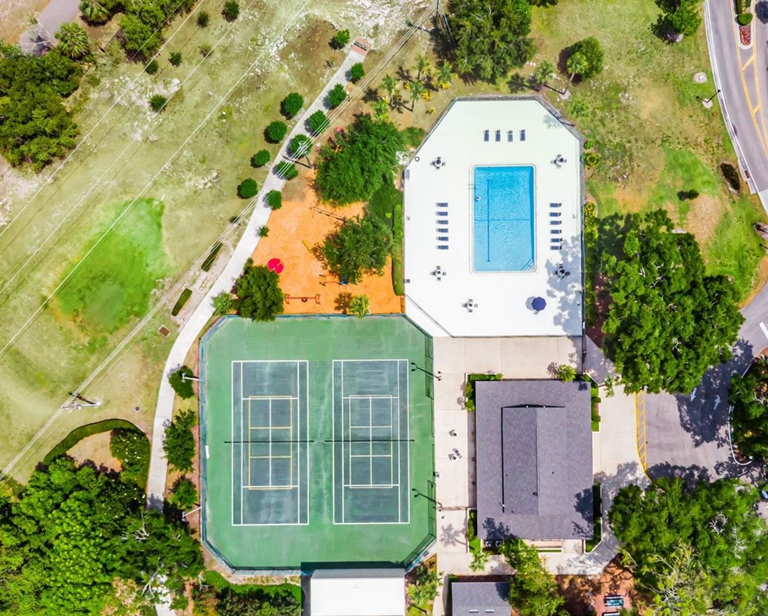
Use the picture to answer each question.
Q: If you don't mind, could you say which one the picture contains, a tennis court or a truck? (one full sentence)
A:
Of the two, only a tennis court appears.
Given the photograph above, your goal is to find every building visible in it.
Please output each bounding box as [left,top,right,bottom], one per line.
[309,566,404,616]
[451,579,511,616]
[475,380,593,541]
